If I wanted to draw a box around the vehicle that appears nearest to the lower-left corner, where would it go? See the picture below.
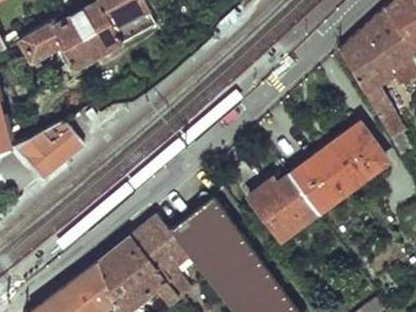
[160,199,176,220]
